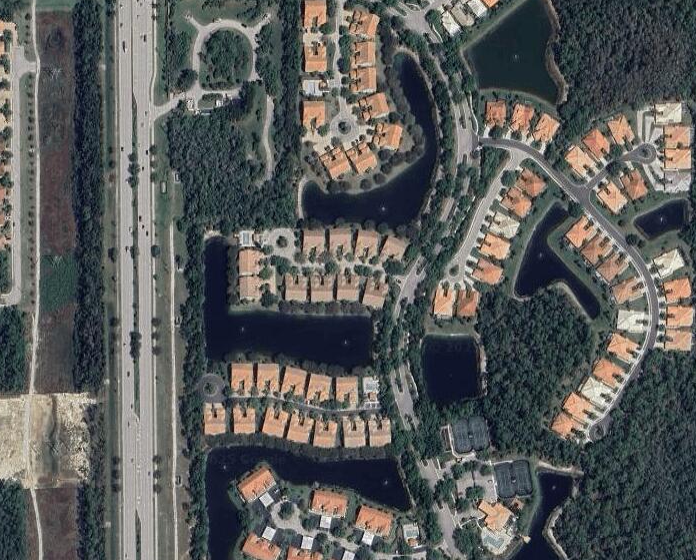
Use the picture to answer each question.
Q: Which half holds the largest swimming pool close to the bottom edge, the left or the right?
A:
right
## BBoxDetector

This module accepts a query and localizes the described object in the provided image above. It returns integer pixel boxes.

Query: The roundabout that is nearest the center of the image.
[265,225,298,258]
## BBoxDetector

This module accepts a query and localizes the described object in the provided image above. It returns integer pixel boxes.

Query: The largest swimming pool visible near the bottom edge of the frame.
[481,529,512,555]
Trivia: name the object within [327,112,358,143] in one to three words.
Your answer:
roundabout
